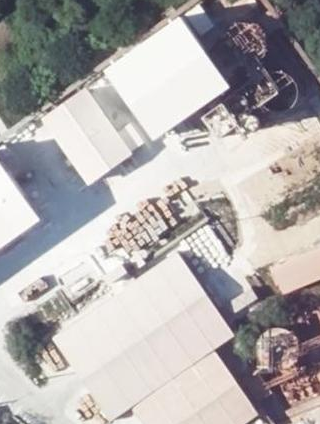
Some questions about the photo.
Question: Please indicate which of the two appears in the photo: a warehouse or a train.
warehouse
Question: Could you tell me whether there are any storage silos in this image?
Yes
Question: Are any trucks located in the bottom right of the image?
No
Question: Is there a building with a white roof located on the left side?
Yes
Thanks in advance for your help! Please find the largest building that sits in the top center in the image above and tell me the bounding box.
[104,18,236,142]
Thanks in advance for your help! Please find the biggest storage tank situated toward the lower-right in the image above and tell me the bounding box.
[256,326,301,370]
